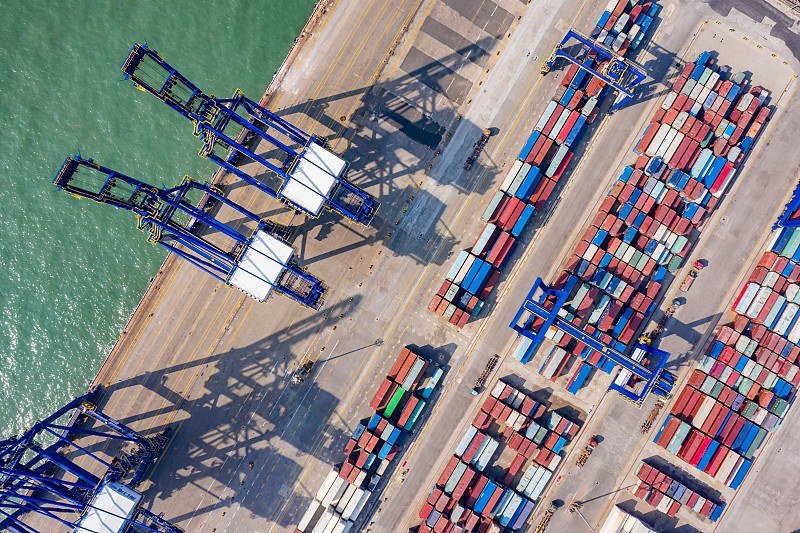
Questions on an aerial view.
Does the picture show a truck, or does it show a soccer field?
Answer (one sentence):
Of the two, only a truck appears.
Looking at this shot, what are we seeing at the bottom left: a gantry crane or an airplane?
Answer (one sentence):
The feature located at the bottom left is a gantry crane.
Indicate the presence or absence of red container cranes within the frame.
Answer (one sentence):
No, no red container crane is visible in the scene.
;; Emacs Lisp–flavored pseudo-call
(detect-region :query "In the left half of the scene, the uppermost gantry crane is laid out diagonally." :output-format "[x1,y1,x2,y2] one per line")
[120,38,385,229]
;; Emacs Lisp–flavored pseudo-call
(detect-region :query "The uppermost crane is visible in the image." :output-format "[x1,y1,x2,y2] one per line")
[538,23,652,118]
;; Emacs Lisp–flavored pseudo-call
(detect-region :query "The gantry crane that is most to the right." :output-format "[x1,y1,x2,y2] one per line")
[771,183,800,232]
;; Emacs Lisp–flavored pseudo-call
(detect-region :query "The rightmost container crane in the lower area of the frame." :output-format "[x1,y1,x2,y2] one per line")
[508,275,691,410]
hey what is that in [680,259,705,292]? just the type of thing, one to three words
truck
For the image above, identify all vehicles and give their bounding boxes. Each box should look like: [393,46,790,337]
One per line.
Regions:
[470,353,499,396]
[641,402,663,435]
[466,125,493,166]
[648,296,684,338]
[536,501,561,533]
[680,259,705,292]
[577,438,599,468]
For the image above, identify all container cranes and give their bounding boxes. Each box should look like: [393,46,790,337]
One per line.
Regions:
[508,275,691,410]
[538,23,652,118]
[771,183,800,232]
[0,386,177,533]
[52,150,333,317]
[120,38,385,229]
